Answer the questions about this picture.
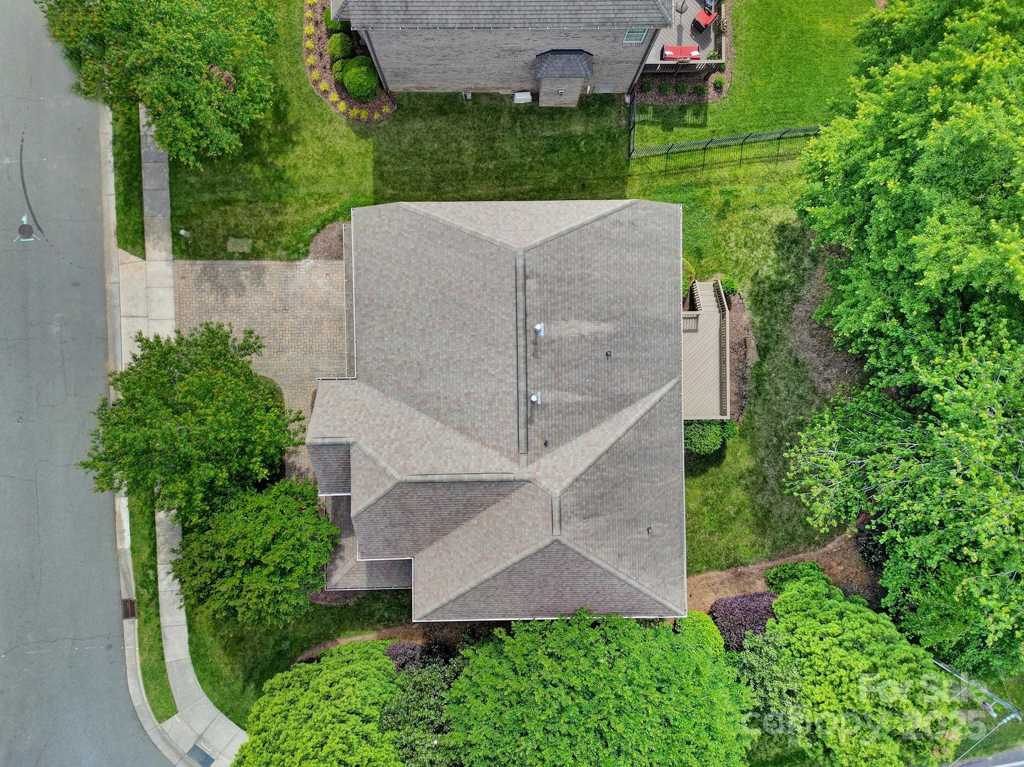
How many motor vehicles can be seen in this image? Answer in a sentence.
There are no motor vehicles in this view.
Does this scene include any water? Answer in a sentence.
No, the picture contains no water.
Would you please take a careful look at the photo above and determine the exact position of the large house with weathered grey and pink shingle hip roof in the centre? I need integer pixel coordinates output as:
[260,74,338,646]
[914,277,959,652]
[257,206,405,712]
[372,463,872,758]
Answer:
[307,198,689,623]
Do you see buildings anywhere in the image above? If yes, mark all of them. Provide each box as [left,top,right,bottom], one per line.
[307,198,689,623]
[329,0,676,106]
